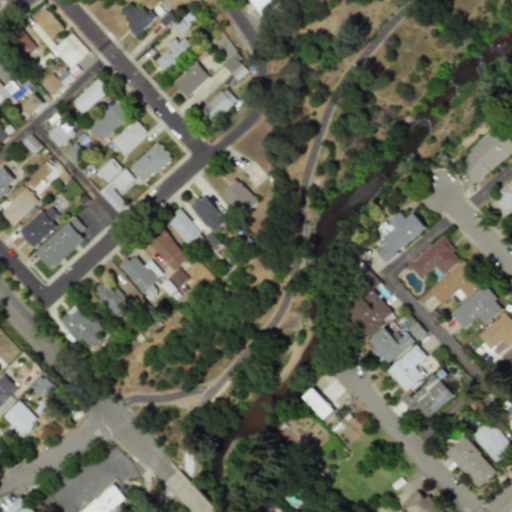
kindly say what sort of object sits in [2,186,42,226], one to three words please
house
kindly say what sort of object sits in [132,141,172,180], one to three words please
house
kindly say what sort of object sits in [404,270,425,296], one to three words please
swimming pool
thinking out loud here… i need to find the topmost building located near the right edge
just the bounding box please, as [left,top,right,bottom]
[464,138,510,182]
